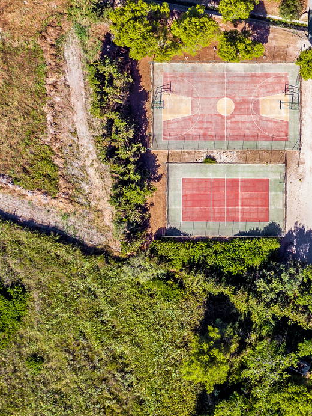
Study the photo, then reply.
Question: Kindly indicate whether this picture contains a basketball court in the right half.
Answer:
Yes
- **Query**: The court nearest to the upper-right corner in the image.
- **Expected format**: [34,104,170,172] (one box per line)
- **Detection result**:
[153,63,298,148]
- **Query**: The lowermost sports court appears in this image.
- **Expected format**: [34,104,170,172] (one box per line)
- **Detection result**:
[168,163,285,237]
